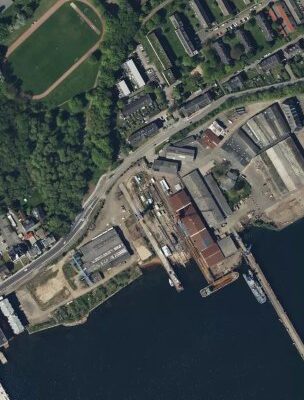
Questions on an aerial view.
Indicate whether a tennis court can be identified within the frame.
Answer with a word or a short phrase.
No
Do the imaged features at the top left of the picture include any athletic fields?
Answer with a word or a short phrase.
Yes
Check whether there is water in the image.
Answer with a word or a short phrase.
Yes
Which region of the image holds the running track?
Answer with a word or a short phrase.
top left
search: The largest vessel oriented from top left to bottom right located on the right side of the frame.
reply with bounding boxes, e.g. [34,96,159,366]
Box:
[243,272,266,303]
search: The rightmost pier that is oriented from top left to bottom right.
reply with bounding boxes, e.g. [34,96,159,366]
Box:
[238,243,304,361]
